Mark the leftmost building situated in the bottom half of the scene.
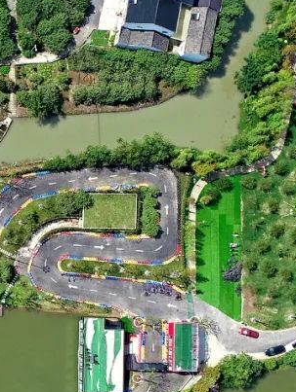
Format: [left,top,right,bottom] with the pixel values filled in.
[77,317,128,392]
